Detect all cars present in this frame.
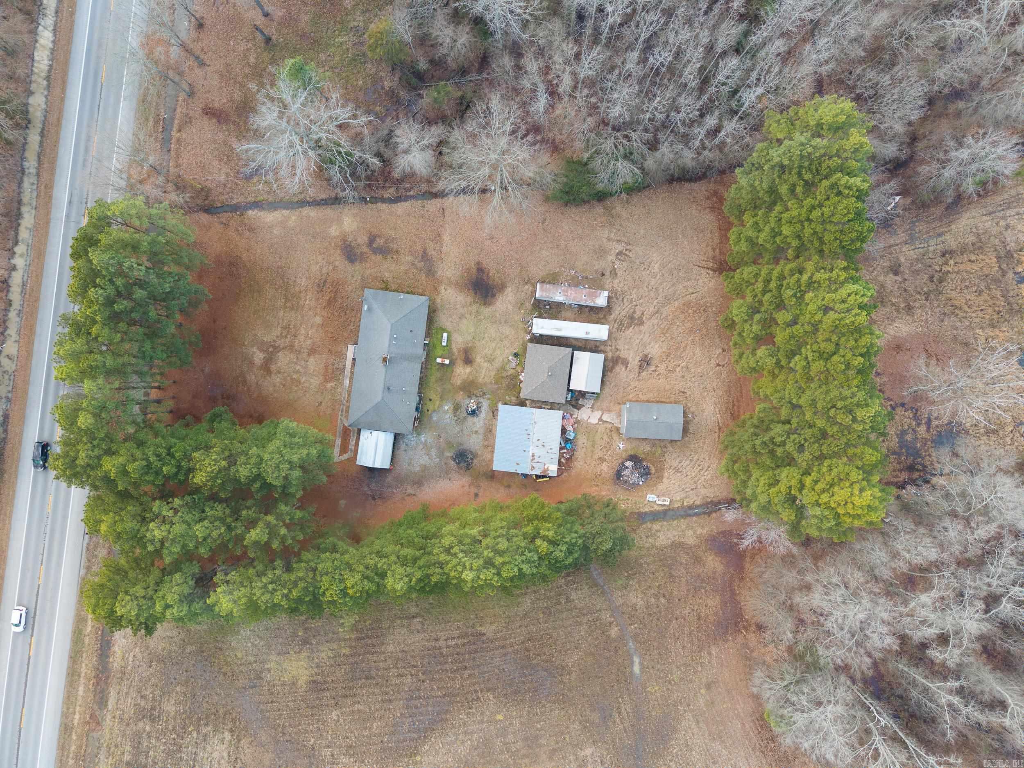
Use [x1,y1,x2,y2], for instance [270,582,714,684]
[34,442,52,470]
[12,609,29,633]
